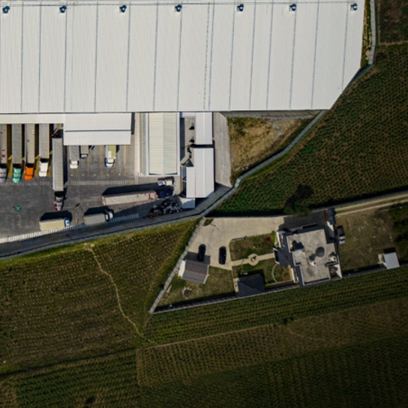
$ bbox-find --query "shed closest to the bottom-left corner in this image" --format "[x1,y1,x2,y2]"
[175,257,208,283]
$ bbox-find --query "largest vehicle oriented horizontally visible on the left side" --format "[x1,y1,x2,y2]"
[101,186,169,205]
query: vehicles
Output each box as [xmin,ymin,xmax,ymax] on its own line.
[0,125,7,179]
[156,179,174,186]
[101,186,169,205]
[83,213,111,225]
[107,145,116,167]
[197,246,205,261]
[218,247,226,262]
[42,219,69,229]
[38,124,48,173]
[24,124,34,179]
[50,138,61,205]
[69,145,79,168]
[337,226,345,245]
[80,145,89,161]
[11,124,22,179]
